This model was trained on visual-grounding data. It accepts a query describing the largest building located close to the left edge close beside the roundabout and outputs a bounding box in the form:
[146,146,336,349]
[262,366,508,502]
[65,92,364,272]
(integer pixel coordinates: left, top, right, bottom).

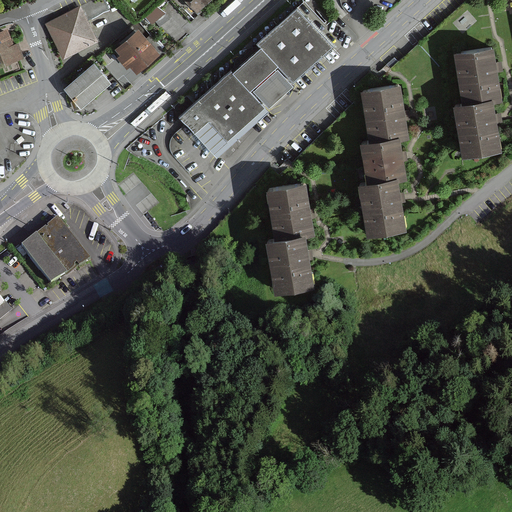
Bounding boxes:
[16,214,91,284]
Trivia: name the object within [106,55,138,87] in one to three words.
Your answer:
building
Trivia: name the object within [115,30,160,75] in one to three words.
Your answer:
house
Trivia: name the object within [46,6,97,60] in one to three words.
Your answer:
house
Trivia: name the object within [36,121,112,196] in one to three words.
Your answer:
roundabout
